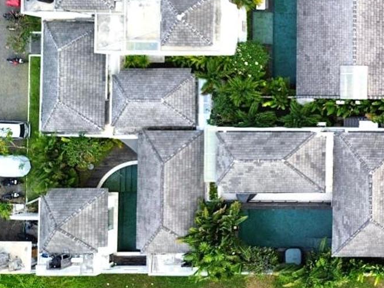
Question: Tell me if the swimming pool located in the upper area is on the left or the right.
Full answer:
It is on the right.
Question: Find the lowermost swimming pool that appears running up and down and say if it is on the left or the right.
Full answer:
The lowermost swimming pool that appears running up and down sits on the left side.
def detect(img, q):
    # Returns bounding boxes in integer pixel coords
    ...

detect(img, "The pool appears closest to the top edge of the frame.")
[252,0,296,89]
